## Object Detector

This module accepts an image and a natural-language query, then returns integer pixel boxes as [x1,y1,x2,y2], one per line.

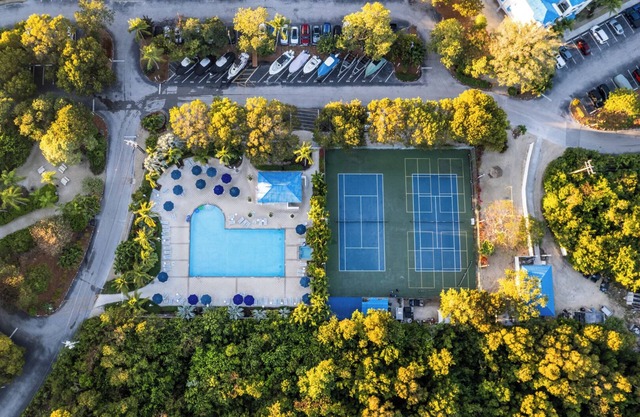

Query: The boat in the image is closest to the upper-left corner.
[176,50,204,74]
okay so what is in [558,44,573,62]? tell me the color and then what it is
blue car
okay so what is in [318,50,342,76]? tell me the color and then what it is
blue boat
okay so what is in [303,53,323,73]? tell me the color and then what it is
white boat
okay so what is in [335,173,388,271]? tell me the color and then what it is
blue tennis court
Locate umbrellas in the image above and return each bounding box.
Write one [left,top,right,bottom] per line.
[299,276,311,288]
[243,294,256,306]
[206,168,217,178]
[187,293,199,305]
[152,292,164,304]
[299,292,311,304]
[295,224,306,235]
[157,271,169,283]
[191,165,203,177]
[163,201,174,212]
[195,178,206,189]
[229,186,241,198]
[171,169,182,180]
[172,184,184,196]
[213,184,224,195]
[231,293,244,306]
[201,293,212,305]
[221,173,232,185]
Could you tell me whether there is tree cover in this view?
Yes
